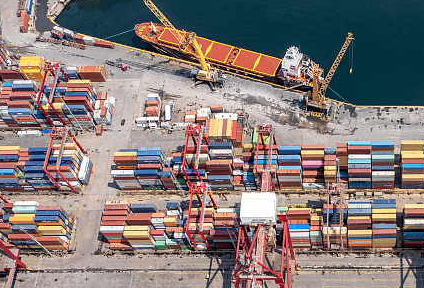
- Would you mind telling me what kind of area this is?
port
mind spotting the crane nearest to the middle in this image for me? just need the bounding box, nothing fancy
[180,127,208,187]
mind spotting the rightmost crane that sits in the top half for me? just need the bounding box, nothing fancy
[301,32,352,119]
